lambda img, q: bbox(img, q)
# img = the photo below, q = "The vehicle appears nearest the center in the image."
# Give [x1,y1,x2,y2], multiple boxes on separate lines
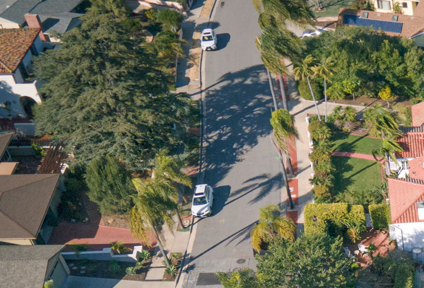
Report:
[187,178,215,214]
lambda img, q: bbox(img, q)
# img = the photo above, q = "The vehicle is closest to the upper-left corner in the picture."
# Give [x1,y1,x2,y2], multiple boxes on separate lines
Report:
[198,30,216,48]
